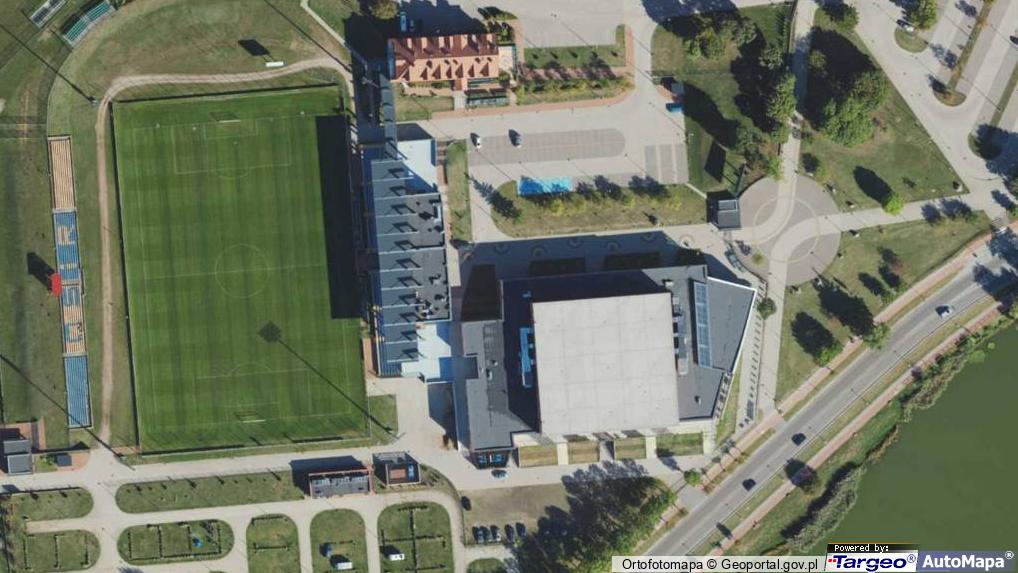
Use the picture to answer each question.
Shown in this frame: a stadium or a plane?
stadium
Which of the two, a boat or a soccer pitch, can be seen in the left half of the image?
soccer pitch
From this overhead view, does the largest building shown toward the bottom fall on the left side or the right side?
left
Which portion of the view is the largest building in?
top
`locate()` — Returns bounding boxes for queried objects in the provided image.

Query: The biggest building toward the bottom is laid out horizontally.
[307,466,377,498]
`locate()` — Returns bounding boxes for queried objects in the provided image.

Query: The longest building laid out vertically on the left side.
[376,70,398,155]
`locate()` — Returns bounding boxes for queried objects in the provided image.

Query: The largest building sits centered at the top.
[391,33,498,90]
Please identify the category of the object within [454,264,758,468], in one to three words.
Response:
stadium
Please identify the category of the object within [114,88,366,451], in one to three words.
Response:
soccer field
